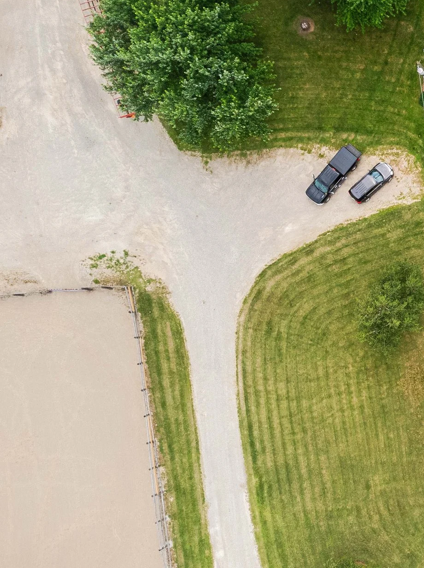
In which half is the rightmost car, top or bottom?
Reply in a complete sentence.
The rightmost car sits in the top half of the picture.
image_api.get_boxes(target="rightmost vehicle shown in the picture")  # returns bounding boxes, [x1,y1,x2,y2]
[348,161,395,205]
